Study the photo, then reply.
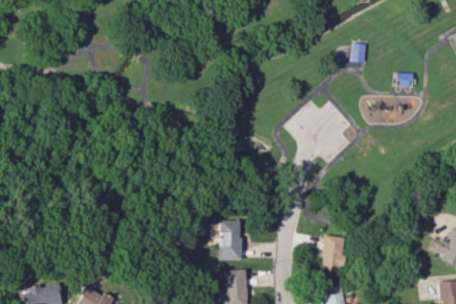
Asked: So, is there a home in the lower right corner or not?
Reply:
Yes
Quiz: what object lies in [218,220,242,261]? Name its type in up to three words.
house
